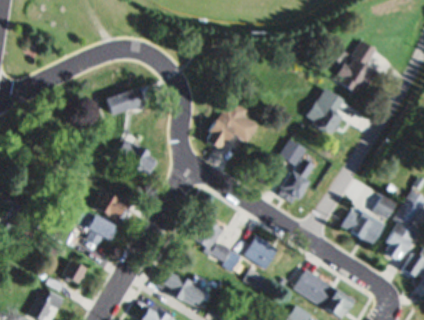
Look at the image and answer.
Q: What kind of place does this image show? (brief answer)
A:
residential area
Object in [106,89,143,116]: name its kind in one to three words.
house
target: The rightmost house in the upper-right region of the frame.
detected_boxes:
[335,40,380,90]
